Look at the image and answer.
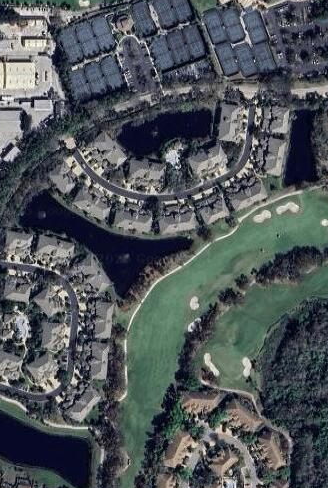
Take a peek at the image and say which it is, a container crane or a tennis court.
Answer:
tennis court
